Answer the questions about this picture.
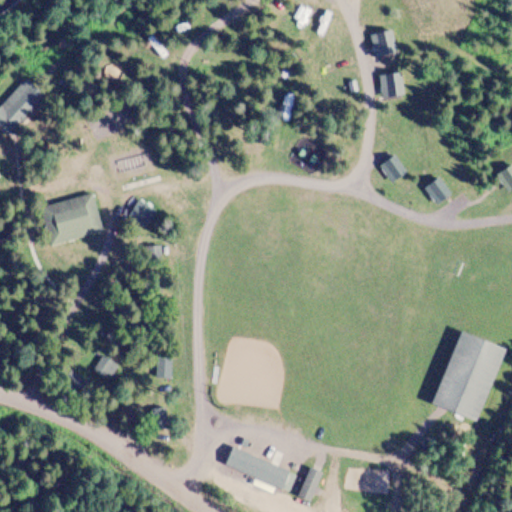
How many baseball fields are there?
one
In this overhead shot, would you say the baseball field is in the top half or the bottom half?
bottom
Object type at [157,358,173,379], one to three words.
building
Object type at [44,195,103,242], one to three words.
house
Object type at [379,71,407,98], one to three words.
building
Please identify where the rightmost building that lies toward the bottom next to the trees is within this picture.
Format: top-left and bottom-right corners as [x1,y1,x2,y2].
[434,332,506,421]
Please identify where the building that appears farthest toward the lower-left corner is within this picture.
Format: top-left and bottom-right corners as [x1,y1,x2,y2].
[94,354,120,378]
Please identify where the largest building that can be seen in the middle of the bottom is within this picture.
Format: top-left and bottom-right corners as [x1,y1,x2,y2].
[228,448,296,492]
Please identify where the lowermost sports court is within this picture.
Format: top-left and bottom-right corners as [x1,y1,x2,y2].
[344,468,388,493]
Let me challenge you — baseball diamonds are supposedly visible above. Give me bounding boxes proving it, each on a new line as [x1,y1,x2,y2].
[216,336,286,409]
